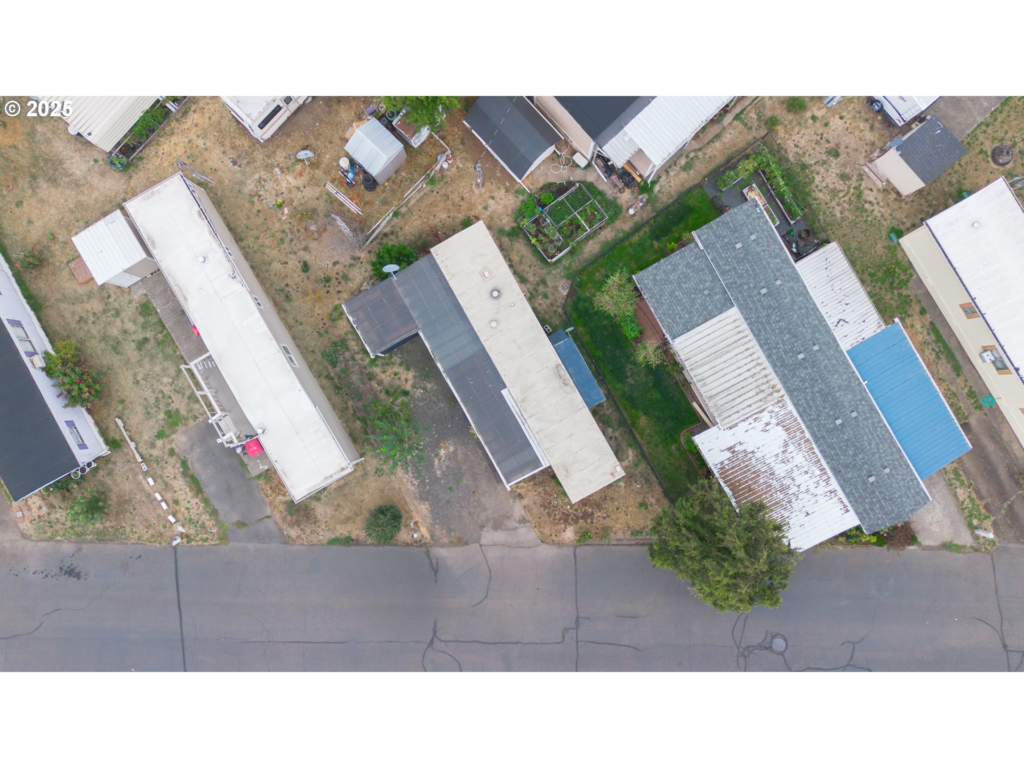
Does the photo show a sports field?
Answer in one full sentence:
No, no sports field can be seen from above.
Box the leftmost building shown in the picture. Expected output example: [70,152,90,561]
[0,256,110,503]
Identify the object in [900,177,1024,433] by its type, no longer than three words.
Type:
house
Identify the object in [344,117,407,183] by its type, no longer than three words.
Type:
shed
